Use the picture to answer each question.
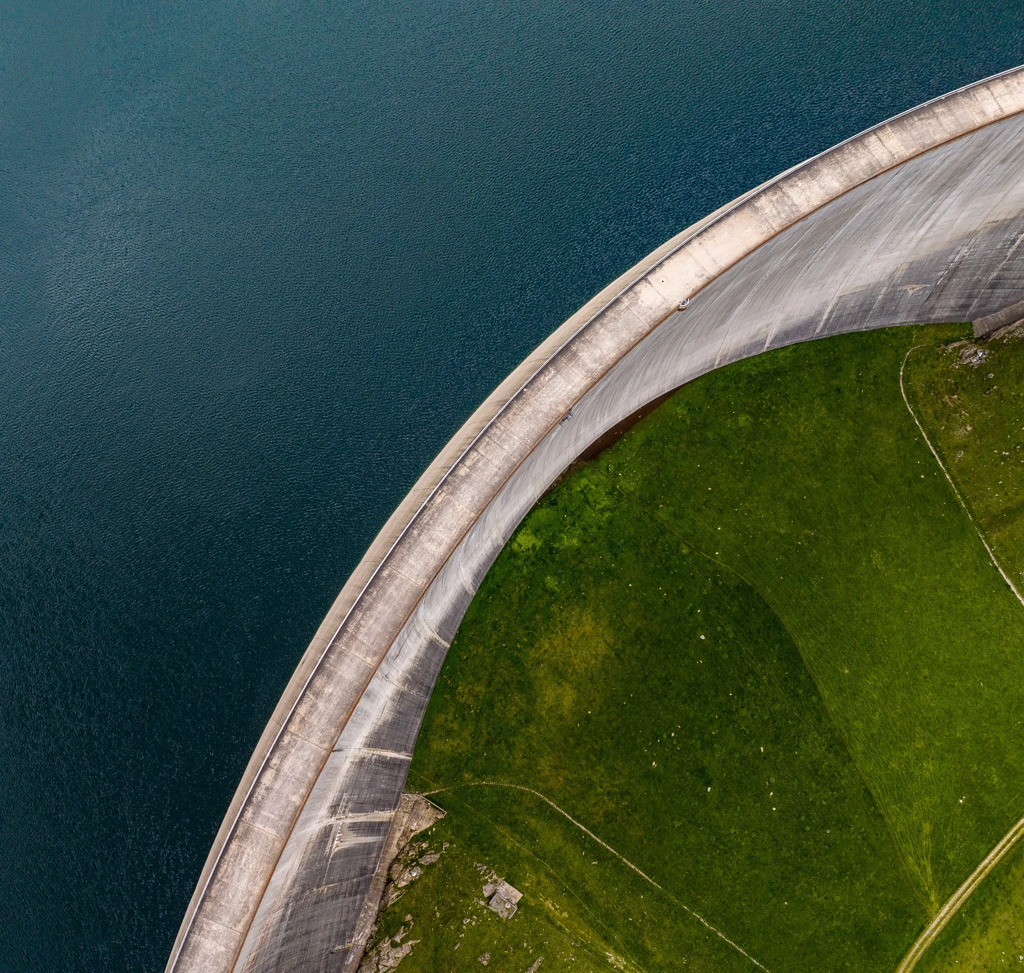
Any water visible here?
Yes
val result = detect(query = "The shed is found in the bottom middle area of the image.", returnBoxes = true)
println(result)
[488,881,523,919]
